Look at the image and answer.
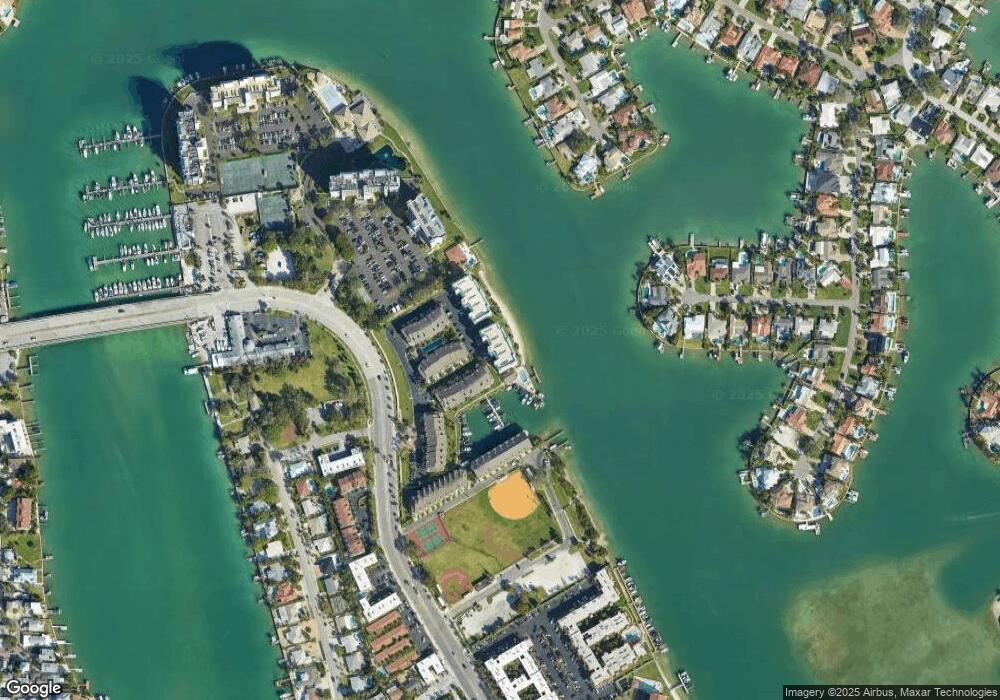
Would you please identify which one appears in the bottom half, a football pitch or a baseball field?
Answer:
baseball field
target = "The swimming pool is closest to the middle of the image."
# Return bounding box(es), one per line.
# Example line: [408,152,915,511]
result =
[517,368,532,386]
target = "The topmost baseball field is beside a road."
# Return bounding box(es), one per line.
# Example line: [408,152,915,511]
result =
[488,471,540,520]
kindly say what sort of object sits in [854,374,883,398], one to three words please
house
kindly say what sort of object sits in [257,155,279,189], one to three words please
tennis court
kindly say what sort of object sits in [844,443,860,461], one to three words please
swimming pool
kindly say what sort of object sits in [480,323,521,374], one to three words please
building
